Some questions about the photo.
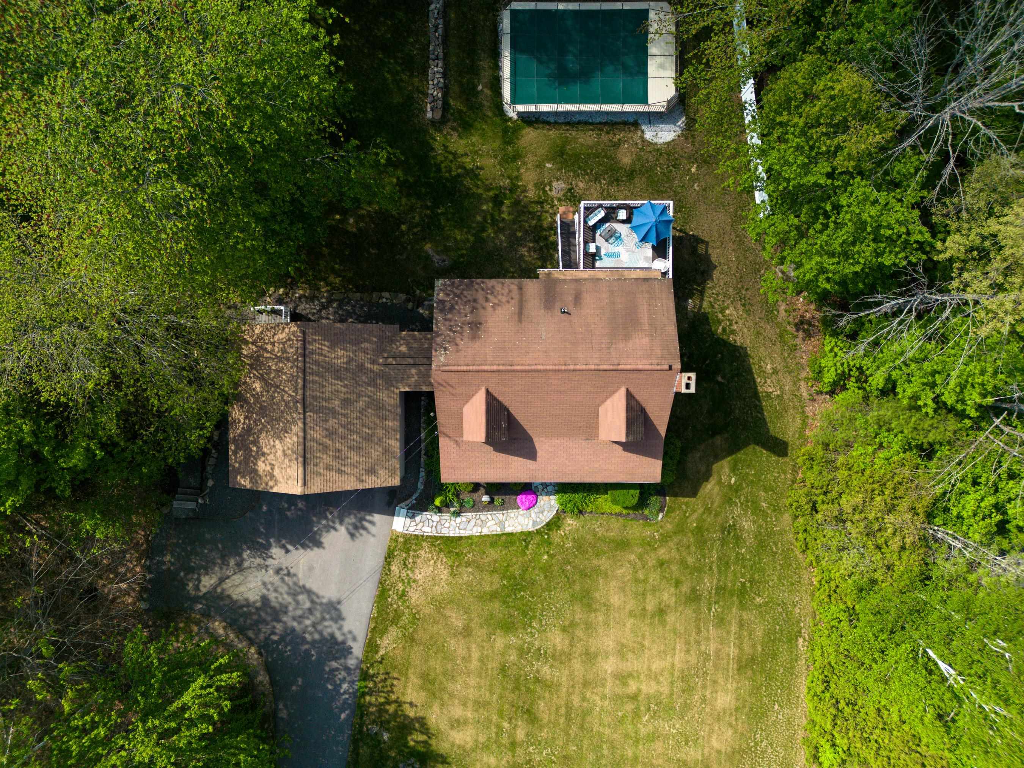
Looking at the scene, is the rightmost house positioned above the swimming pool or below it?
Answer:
below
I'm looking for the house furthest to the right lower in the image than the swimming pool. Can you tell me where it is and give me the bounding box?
[432,269,695,483]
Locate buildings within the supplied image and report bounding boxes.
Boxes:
[229,321,405,494]
[432,269,695,483]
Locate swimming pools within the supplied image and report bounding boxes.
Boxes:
[503,0,680,116]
